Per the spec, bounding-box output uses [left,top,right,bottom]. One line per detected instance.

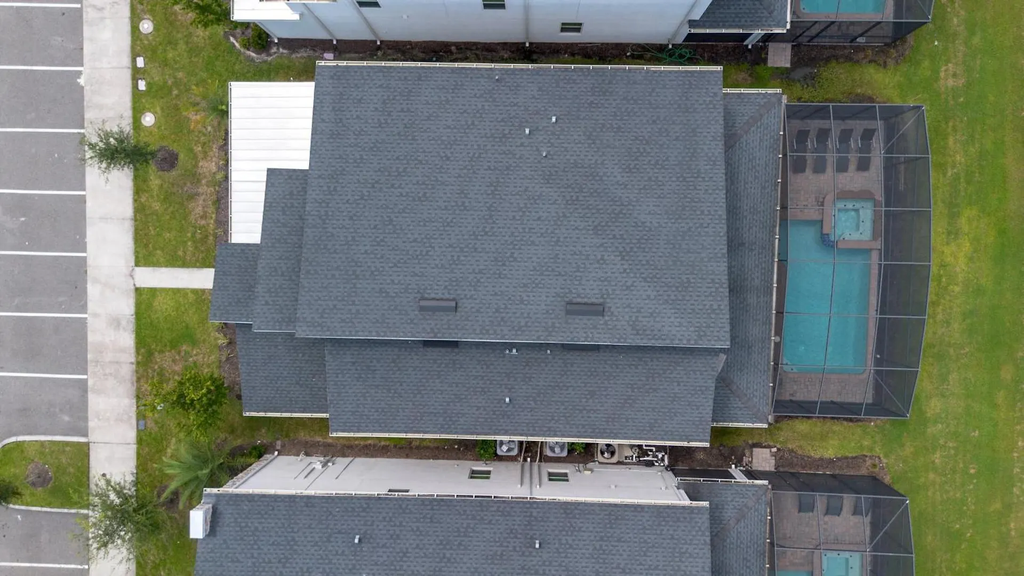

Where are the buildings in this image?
[227,0,791,52]
[209,59,788,449]
[188,449,775,576]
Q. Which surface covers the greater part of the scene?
buildings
